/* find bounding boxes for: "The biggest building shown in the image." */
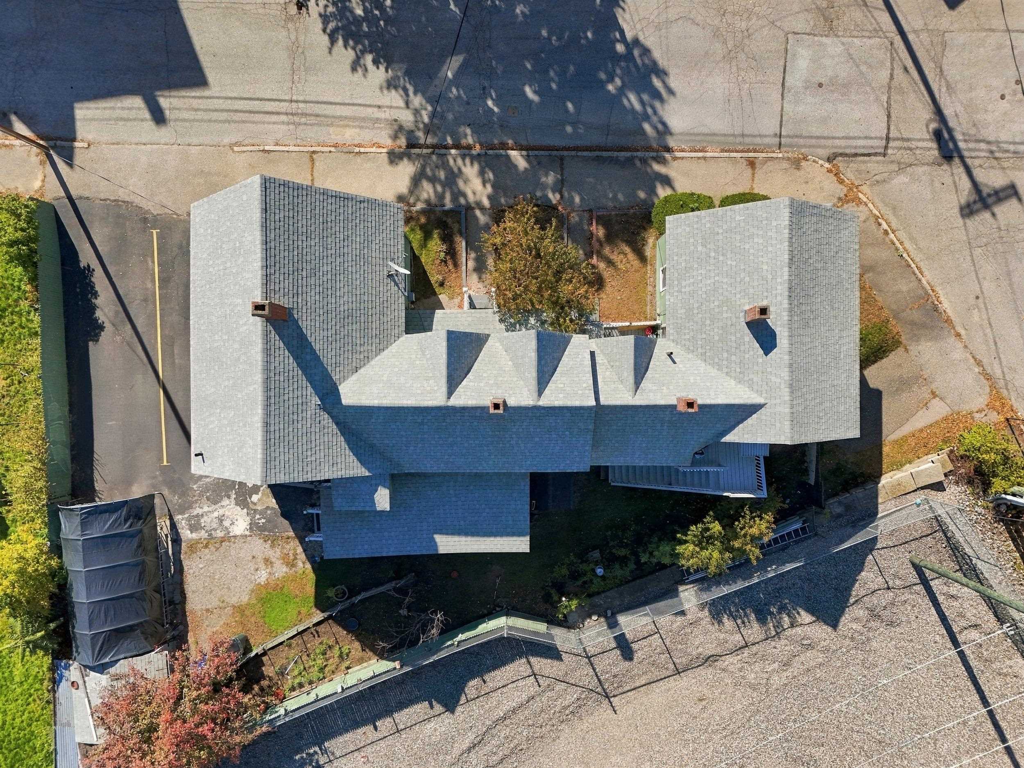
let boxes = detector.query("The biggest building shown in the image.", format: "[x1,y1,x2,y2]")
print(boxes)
[190,175,859,556]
